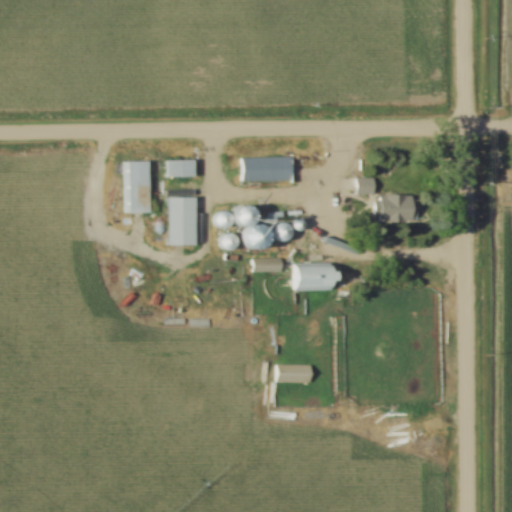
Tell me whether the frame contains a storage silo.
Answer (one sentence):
Yes, you can see a storage silo in this photo.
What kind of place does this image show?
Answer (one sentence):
This looks like farmland.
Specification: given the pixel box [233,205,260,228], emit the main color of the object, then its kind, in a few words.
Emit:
white silo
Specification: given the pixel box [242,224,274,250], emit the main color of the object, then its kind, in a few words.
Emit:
white silo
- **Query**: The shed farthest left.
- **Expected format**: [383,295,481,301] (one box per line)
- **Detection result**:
[123,160,152,214]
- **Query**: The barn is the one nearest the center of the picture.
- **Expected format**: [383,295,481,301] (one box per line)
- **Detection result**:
[250,258,284,273]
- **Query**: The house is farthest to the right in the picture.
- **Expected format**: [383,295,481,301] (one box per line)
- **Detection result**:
[376,192,416,224]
